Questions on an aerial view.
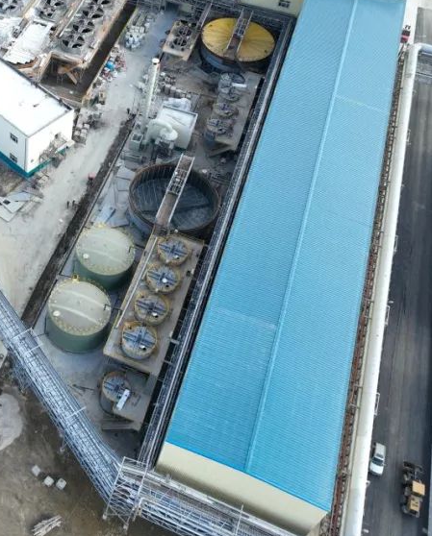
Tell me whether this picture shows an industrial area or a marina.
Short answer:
industrial area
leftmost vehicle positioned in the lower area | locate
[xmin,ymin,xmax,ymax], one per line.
[370,441,387,475]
